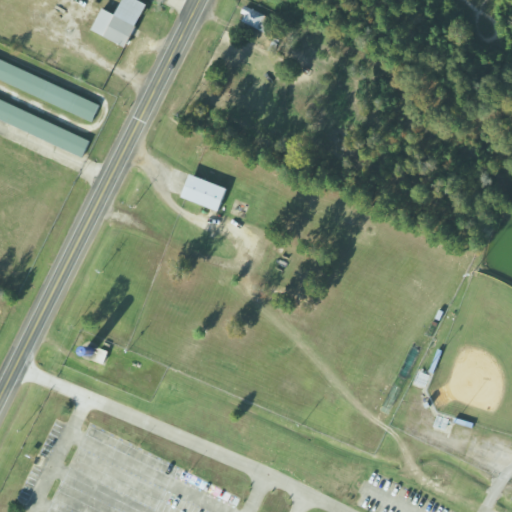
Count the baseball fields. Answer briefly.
1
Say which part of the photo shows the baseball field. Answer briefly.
bottom right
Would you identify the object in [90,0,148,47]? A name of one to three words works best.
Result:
barn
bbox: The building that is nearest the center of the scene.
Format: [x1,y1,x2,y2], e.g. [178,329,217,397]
[180,174,228,212]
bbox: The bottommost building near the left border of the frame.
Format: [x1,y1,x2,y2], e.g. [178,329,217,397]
[0,101,90,156]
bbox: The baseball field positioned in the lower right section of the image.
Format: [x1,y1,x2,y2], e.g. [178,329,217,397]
[436,346,505,413]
